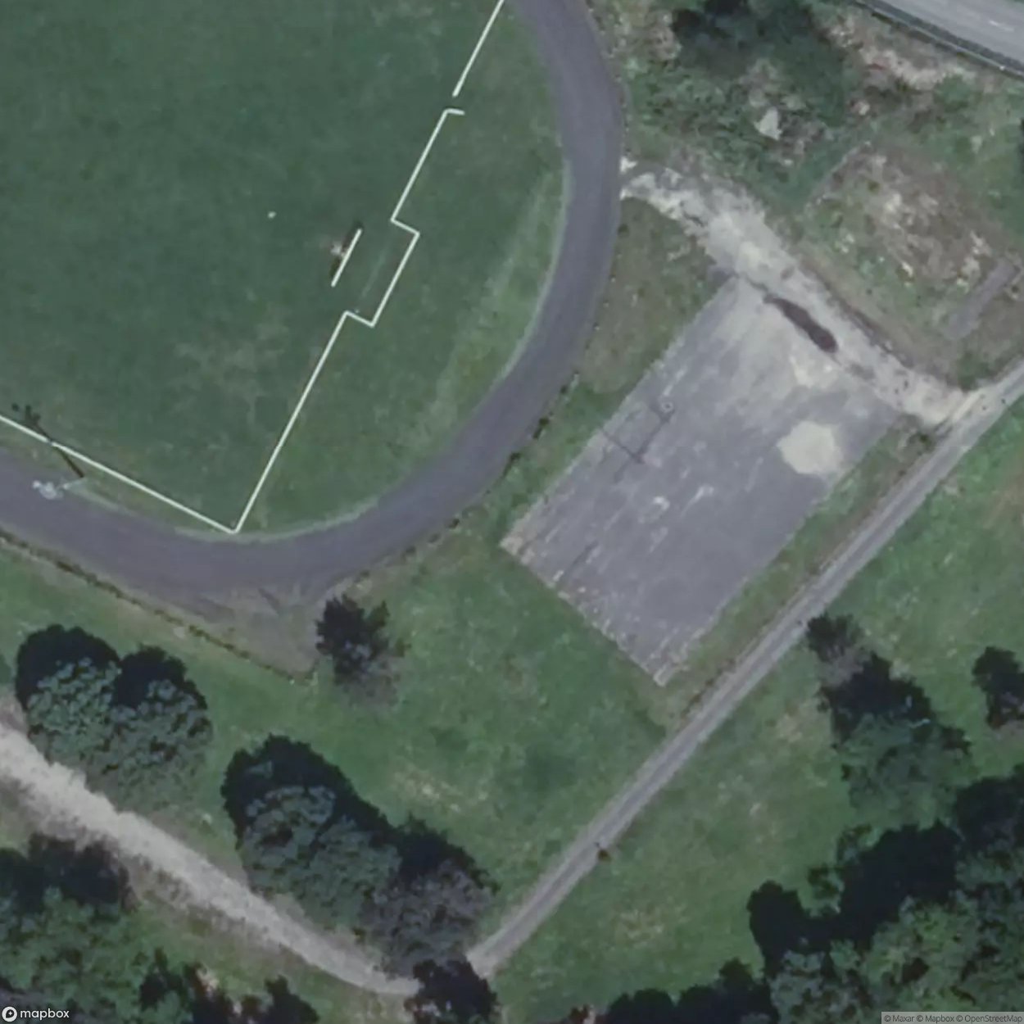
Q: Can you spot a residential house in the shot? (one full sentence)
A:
No, there isn't any residential house down there.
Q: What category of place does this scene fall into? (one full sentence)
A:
The area seen from above is a sports ground.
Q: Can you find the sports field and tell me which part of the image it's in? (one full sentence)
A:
You can find the sports field in the top left area of the picture.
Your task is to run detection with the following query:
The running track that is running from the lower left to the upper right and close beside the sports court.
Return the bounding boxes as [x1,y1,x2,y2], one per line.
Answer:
[0,0,621,619]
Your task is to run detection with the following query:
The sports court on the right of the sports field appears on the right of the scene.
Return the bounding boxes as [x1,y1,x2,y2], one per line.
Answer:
[502,277,897,687]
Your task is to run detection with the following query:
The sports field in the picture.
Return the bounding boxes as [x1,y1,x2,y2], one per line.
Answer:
[0,0,501,530]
